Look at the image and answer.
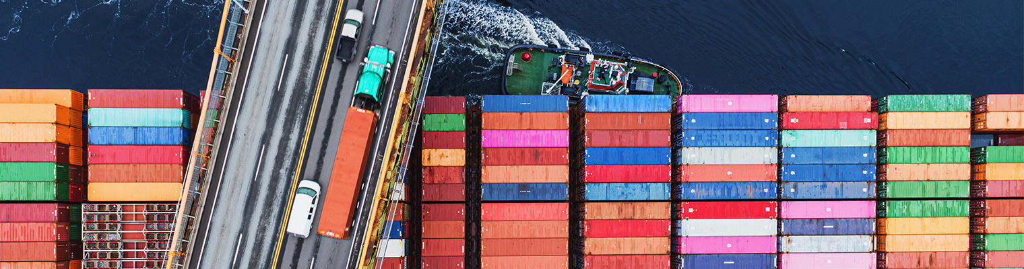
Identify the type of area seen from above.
port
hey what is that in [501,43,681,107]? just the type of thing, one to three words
boat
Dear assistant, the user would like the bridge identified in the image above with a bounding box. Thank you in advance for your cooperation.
[161,0,452,269]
